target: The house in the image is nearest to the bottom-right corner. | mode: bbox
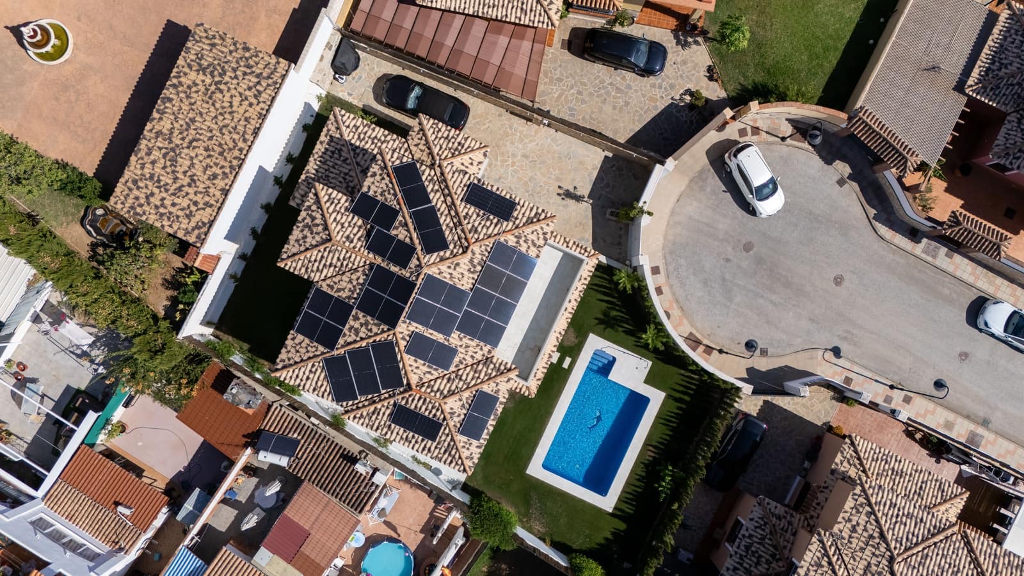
[709,434,1024,576]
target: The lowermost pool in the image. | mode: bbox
[359,528,419,576]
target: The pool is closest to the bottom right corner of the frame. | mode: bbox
[526,334,665,512]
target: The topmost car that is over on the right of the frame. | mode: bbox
[582,21,671,79]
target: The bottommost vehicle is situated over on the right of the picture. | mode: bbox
[704,412,773,498]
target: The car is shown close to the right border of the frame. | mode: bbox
[981,305,1024,353]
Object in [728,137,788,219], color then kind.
white car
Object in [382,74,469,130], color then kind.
black car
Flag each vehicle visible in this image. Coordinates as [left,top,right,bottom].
[704,412,773,498]
[582,21,671,79]
[382,74,469,130]
[728,137,788,219]
[981,305,1024,353]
